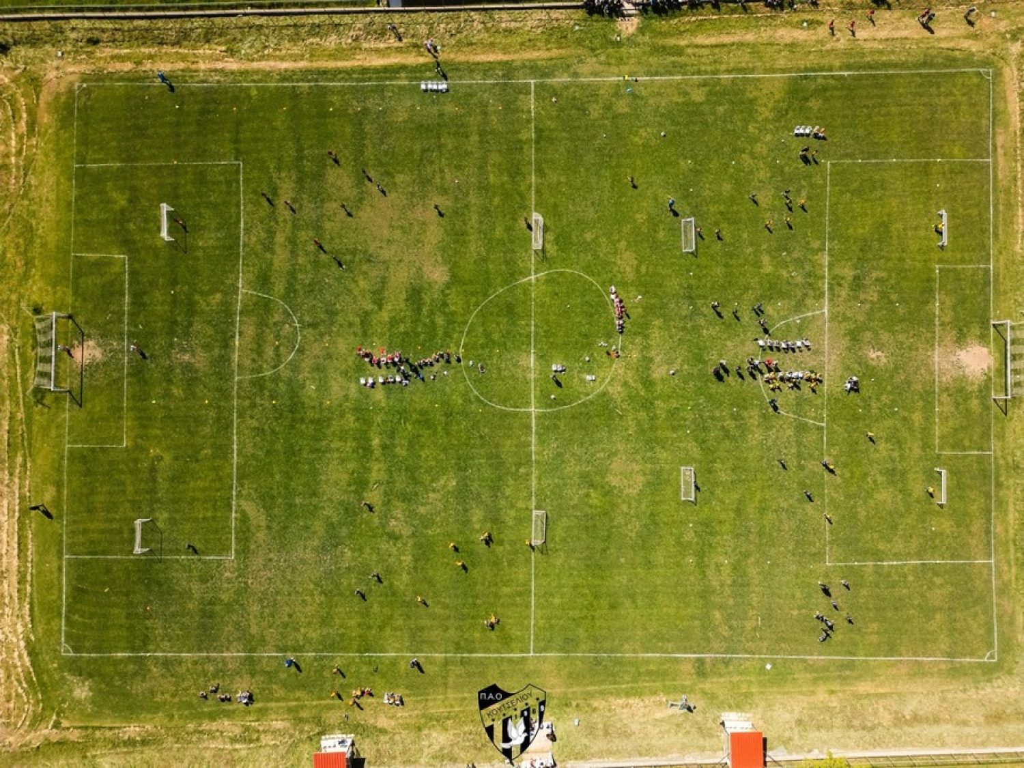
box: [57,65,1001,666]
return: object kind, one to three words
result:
soccer field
